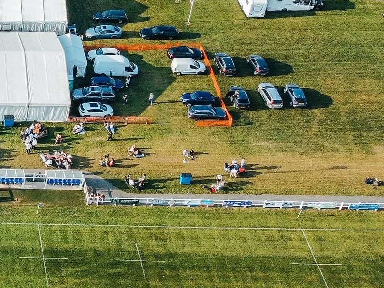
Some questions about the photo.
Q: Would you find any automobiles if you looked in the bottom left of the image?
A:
No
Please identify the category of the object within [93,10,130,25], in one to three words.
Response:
car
